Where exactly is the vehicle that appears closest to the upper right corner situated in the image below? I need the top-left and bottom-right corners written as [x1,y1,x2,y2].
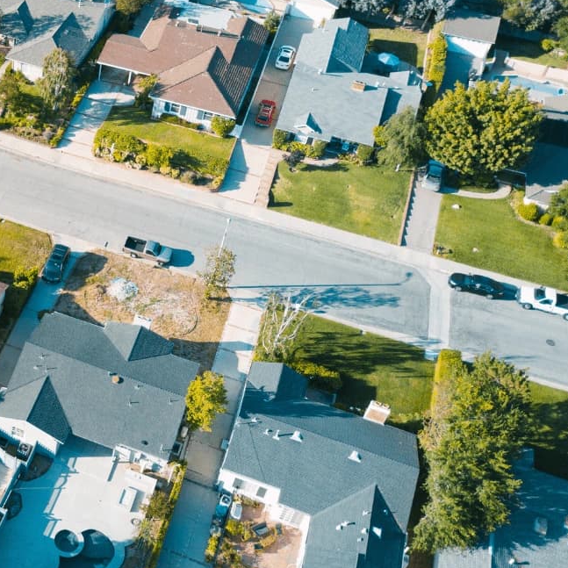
[419,153,447,193]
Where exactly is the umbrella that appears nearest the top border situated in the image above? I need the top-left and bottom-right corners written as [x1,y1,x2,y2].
[377,56,399,76]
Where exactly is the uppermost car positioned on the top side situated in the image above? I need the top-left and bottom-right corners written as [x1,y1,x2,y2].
[273,43,297,71]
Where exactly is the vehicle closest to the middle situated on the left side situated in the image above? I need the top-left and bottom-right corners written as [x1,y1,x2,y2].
[119,235,176,267]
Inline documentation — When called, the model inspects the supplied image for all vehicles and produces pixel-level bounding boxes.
[449,276,506,303]
[119,235,176,267]
[37,241,74,286]
[520,289,568,321]
[254,97,279,129]
[419,153,447,193]
[273,43,297,71]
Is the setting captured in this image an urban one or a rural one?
urban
